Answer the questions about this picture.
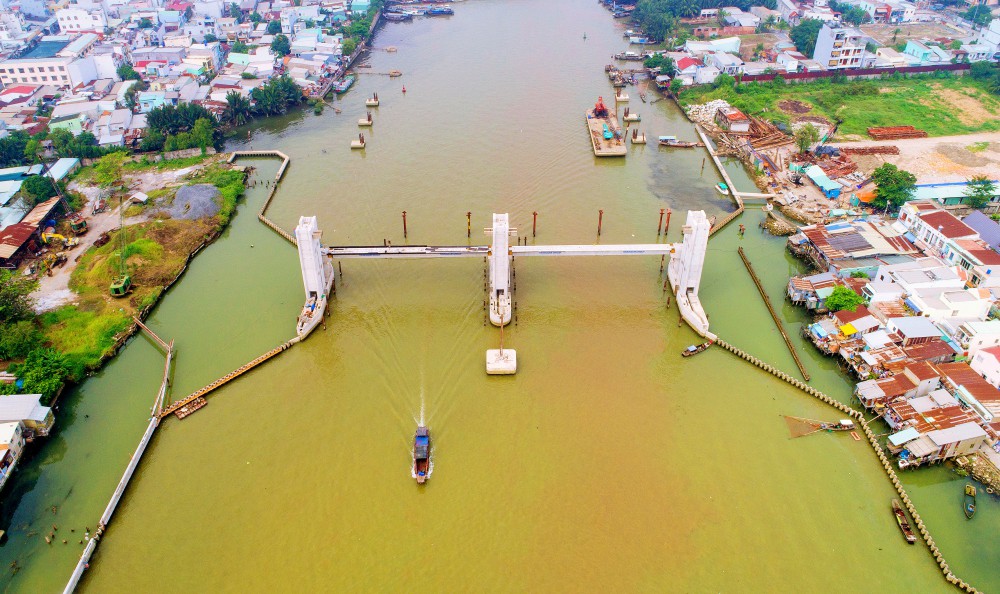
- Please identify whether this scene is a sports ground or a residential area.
residential area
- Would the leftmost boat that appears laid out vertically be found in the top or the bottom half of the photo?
bottom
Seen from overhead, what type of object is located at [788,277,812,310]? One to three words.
house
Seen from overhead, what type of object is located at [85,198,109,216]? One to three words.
vehicle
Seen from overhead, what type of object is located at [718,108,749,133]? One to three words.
shed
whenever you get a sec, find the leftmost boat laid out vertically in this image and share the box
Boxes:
[411,423,432,484]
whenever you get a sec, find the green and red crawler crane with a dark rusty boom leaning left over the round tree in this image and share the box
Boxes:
[38,155,90,232]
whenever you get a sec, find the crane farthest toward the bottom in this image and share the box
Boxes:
[99,196,137,296]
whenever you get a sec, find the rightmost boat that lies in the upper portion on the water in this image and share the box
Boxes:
[716,182,729,195]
